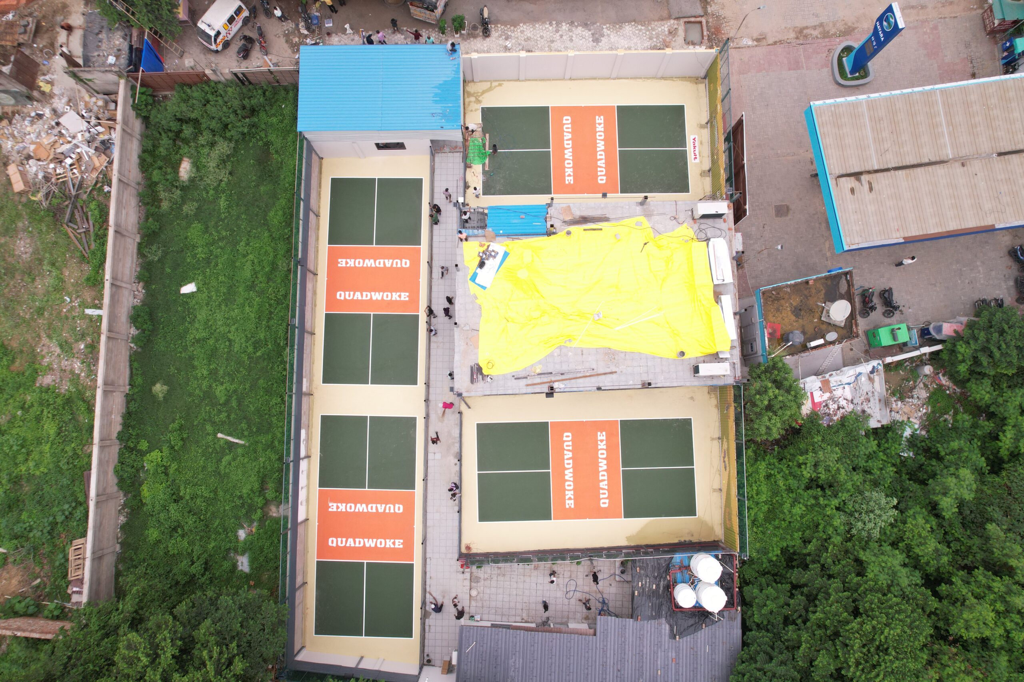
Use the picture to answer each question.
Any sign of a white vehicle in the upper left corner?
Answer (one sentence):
Yes, looking in the upper left corner, one can make out a white vehicle.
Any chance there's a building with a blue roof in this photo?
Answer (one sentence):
Yes, a building with a blue roof can be made out from above.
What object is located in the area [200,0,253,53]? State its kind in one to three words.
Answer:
van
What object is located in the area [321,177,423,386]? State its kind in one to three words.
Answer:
sports court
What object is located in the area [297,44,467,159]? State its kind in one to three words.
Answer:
building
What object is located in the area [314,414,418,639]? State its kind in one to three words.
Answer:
sports court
